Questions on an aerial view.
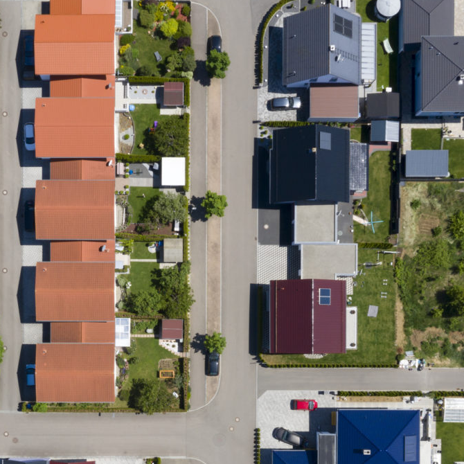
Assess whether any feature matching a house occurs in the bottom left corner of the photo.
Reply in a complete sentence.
Yes, in the bottom left corner of the photo there is a house.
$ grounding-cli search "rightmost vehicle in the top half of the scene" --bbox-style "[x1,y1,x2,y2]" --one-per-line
[268,96,299,110]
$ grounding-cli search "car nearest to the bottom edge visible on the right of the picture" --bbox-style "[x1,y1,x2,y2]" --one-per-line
[275,426,304,446]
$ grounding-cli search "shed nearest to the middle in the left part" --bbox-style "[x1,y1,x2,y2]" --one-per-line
[163,239,183,263]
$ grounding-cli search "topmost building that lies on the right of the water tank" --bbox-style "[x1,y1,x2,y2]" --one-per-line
[401,0,454,54]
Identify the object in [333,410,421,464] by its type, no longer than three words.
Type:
house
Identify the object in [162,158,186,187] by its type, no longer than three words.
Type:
building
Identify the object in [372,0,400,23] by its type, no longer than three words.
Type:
water tank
